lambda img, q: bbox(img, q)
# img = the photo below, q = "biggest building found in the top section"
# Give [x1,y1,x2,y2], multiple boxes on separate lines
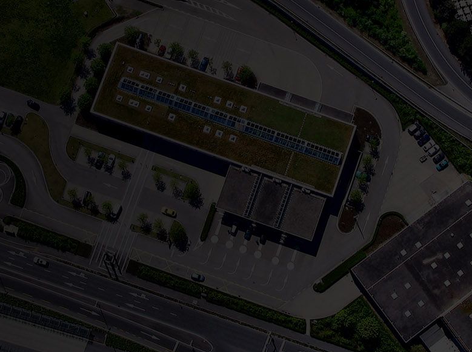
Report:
[91,42,356,199]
